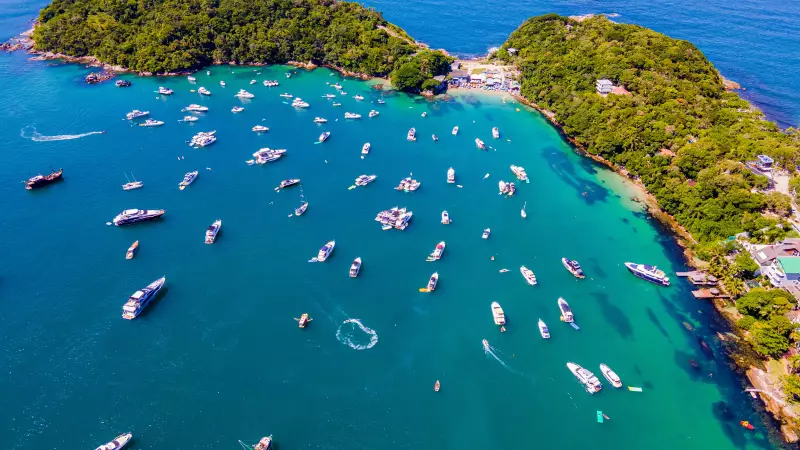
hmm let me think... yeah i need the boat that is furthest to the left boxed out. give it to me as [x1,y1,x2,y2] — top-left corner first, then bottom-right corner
[27,163,61,187]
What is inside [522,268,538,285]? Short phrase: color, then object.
white boat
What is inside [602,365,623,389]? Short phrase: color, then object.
white boat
